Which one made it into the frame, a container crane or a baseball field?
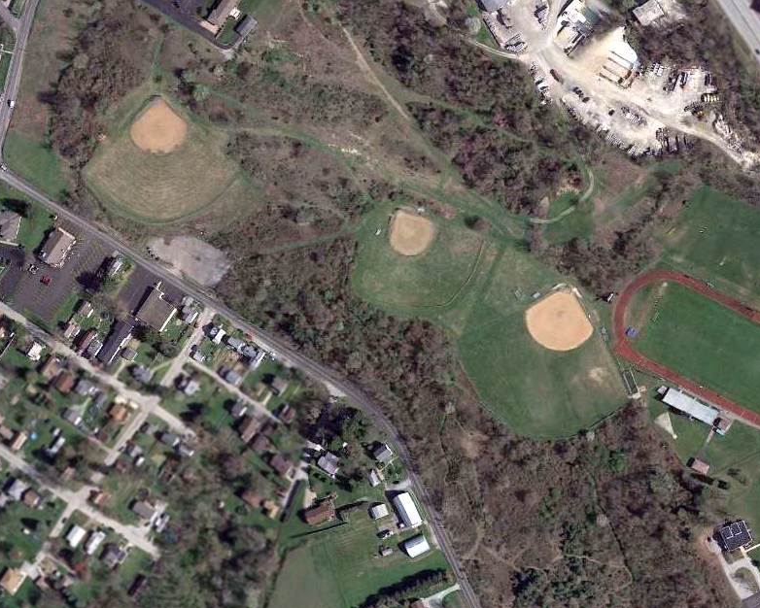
baseball field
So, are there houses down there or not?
Yes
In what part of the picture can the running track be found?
right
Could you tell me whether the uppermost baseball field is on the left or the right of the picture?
left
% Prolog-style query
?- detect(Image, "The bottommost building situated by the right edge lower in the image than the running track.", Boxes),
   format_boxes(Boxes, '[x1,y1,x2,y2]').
[721,521,753,551]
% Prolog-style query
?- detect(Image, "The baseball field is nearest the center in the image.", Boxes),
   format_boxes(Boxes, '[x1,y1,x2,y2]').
[354,202,487,308]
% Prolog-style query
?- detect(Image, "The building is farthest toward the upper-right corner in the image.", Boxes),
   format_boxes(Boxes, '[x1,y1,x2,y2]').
[634,0,665,26]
